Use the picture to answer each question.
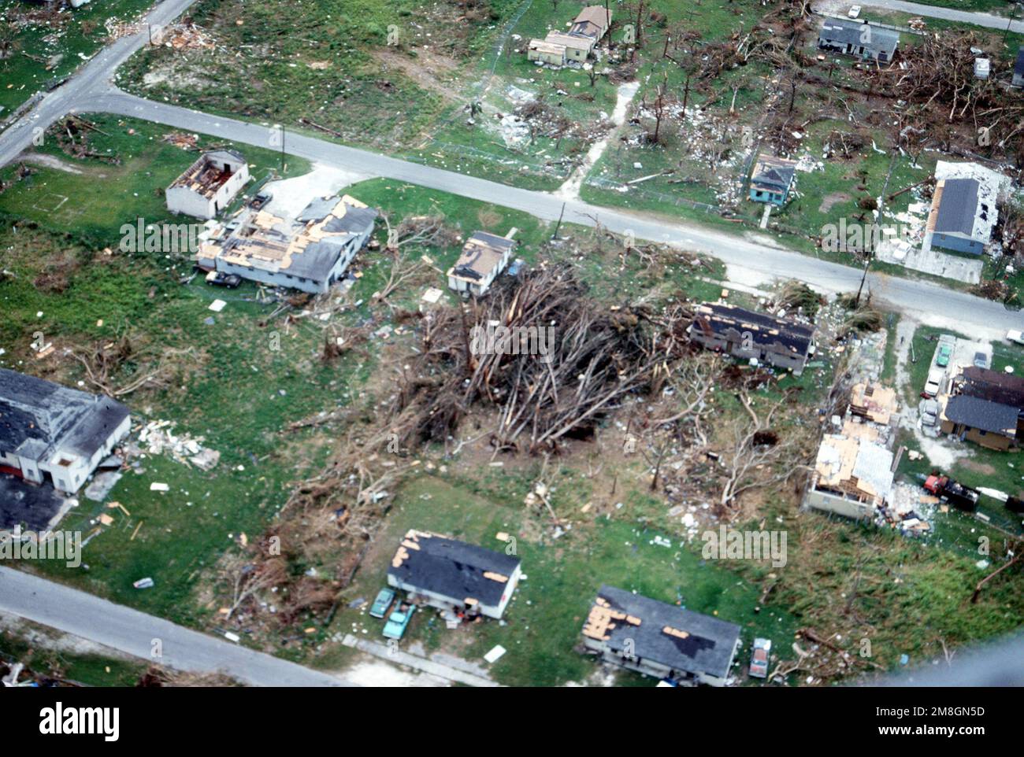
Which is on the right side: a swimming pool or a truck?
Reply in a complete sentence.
The feature located on the right side is a truck.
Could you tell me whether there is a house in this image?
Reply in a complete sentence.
Yes, looking at the shot, I can spot a house.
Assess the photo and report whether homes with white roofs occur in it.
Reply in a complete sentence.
Yes, the frame does contain a home with a white roof.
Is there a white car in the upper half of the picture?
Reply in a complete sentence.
Yes, a white car shows up in the upper half of the picture.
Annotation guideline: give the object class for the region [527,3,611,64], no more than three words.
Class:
house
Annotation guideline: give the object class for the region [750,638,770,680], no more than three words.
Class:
car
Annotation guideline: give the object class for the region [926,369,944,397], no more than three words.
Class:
car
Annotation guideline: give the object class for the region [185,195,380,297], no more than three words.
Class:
house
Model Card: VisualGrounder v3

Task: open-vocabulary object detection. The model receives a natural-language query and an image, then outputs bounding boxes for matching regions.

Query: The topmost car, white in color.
[848,5,860,18]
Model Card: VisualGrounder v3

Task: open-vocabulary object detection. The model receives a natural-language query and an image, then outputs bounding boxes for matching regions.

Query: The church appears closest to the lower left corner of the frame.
[0,368,134,492]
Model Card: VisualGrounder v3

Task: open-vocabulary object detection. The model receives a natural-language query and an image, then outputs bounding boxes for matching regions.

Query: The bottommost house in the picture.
[582,585,740,697]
